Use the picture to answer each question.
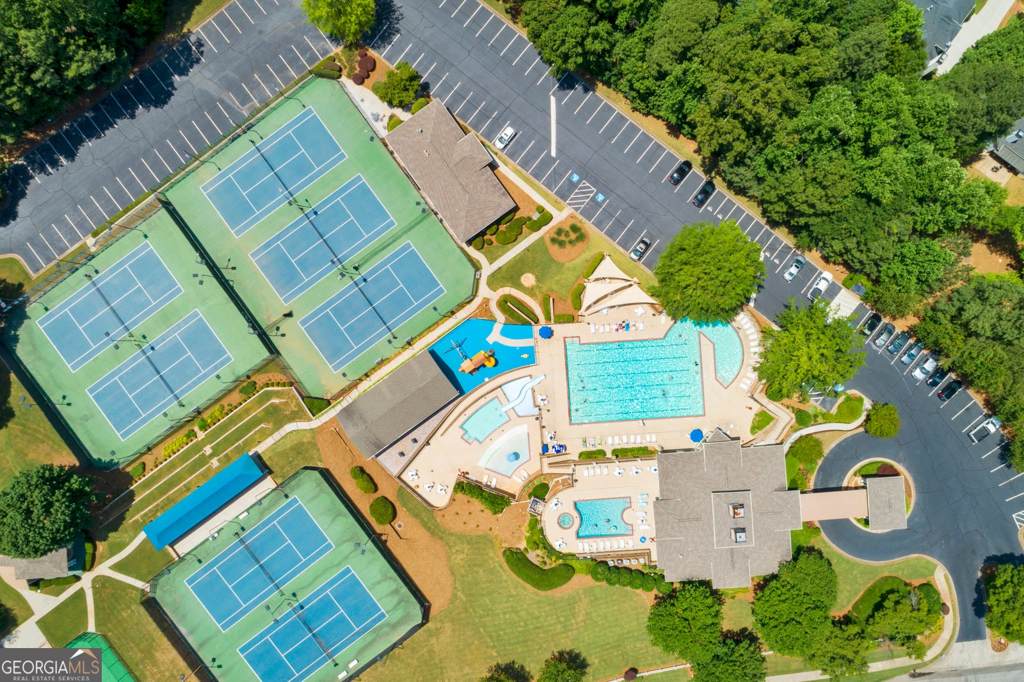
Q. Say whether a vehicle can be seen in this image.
Yes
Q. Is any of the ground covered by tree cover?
Yes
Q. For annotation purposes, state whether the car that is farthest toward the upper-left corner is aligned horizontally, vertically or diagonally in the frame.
diagonally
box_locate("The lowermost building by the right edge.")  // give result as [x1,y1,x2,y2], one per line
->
[982,121,1024,186]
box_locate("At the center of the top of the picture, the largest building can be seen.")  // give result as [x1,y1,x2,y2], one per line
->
[384,98,516,243]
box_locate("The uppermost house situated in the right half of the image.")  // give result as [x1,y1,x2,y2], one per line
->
[916,0,976,70]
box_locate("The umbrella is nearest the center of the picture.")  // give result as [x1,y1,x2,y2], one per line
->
[538,325,552,339]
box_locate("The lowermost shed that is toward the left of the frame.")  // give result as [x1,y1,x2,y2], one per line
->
[0,541,75,576]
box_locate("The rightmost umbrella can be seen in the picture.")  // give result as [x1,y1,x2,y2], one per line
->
[689,428,704,443]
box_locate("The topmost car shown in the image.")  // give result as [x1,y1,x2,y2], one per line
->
[494,124,518,151]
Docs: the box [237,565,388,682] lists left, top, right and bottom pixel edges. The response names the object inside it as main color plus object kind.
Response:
blue tennis court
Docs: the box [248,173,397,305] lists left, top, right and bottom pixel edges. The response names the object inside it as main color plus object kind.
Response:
blue tennis court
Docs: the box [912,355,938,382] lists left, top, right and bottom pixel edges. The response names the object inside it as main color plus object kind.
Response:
white car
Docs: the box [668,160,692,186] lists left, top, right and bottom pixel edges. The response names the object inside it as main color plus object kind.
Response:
black car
